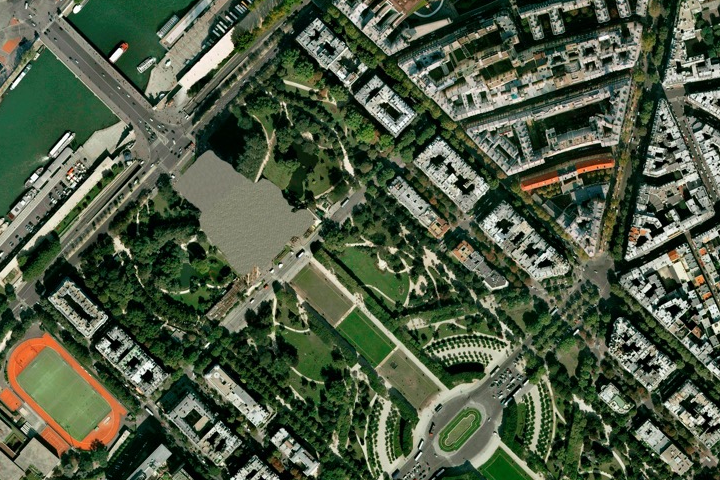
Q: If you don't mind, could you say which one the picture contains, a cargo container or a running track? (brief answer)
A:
running track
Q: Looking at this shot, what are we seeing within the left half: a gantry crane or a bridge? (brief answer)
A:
bridge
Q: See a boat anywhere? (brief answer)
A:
Yes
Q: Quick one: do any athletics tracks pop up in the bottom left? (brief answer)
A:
Yes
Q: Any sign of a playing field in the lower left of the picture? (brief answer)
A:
Yes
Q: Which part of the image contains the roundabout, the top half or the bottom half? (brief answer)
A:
bottom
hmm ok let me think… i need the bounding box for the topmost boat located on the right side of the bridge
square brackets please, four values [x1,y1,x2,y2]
[156,17,178,38]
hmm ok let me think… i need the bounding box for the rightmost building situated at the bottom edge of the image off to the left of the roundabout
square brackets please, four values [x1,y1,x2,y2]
[270,428,321,477]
